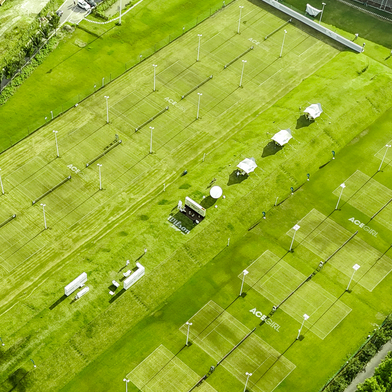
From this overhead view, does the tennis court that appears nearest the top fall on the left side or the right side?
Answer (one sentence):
The tennis court that appears nearest the top is on the right side of the image.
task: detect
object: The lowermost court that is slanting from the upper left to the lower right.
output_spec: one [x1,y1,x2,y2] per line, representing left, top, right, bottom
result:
[179,300,297,392]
